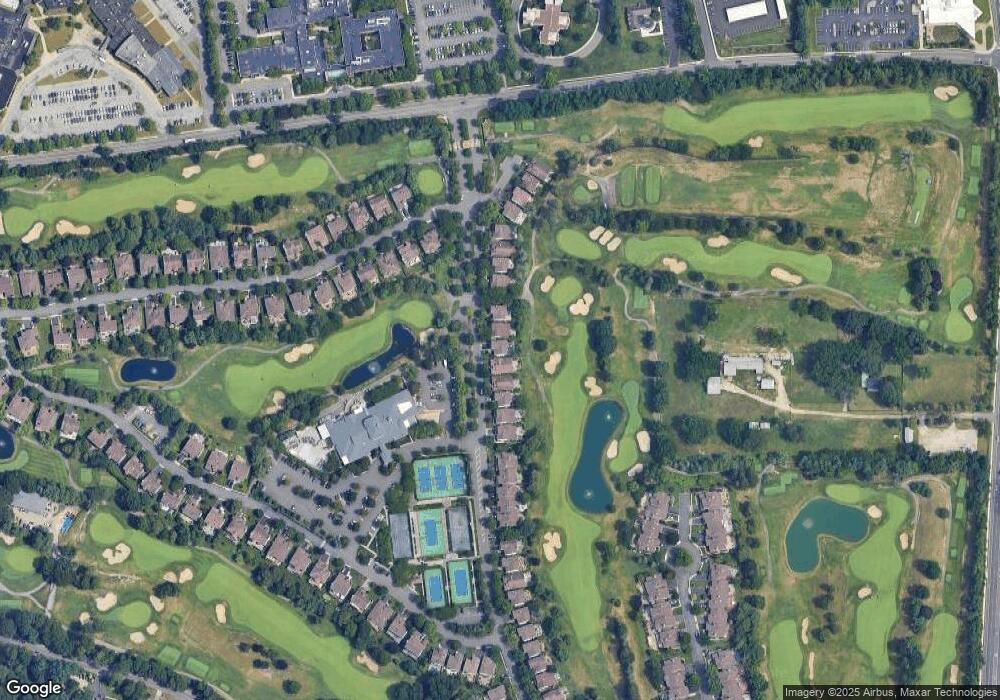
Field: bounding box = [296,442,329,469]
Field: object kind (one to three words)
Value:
swimming pool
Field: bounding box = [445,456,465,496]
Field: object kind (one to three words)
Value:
tennis court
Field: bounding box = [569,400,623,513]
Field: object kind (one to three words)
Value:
pond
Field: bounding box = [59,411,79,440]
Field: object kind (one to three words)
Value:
house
